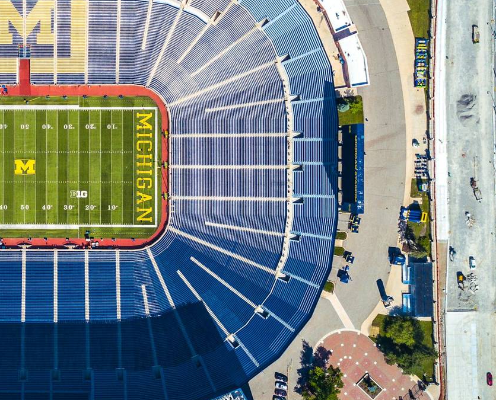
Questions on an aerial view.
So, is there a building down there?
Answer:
Yes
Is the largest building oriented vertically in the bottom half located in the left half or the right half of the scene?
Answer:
right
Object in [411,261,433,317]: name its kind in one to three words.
building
